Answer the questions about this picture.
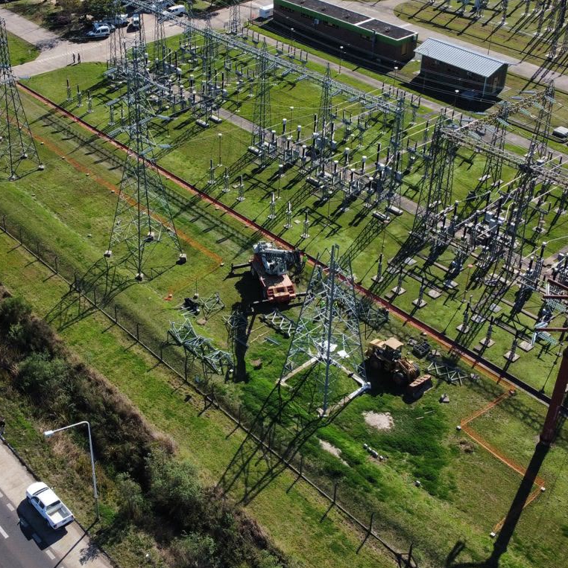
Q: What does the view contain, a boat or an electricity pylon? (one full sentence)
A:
Visible in the photo is an electricity pylon.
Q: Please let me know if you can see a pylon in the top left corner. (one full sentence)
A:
Yes, in the top left corner there is a pylon.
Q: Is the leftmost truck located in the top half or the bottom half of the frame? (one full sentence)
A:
Seen from above, the leftmost truck lies in the bottom half of the view.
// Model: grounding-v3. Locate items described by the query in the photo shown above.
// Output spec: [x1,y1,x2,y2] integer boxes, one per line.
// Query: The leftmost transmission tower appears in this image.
[0,15,47,179]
